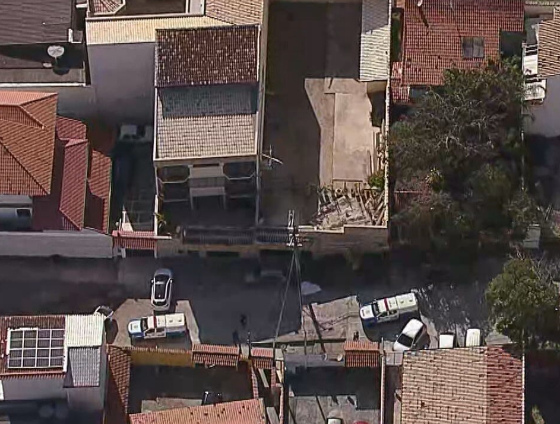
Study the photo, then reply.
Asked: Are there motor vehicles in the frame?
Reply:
Yes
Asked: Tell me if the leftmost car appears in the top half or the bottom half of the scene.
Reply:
bottom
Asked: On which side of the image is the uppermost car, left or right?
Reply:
left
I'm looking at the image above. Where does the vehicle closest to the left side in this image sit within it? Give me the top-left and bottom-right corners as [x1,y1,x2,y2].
[97,303,122,329]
